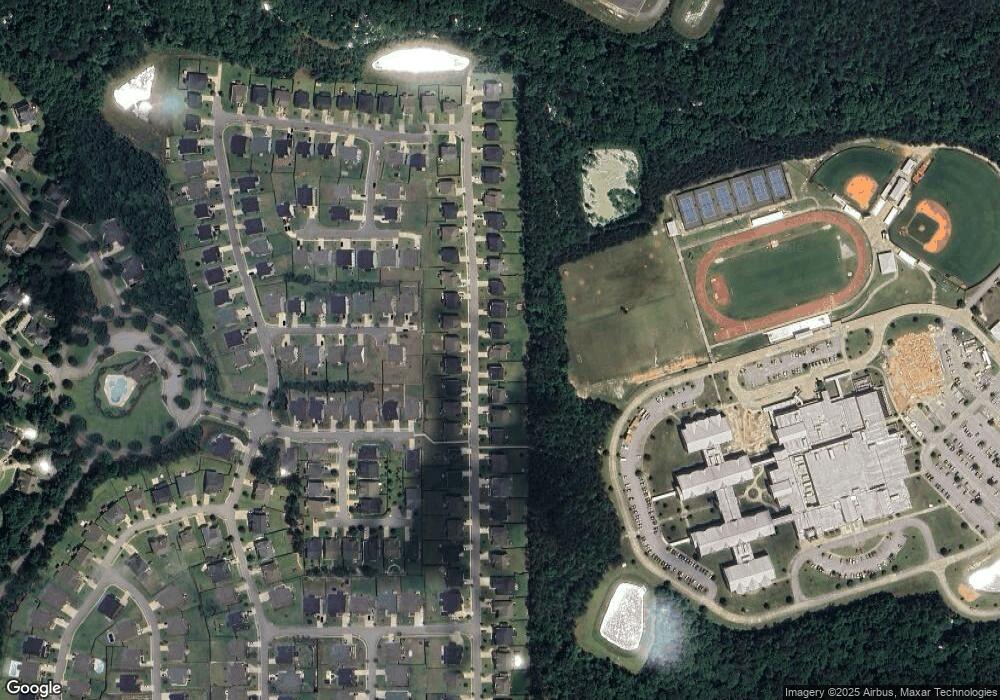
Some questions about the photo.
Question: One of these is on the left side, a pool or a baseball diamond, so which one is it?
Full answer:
The one visible on the left side is a pool.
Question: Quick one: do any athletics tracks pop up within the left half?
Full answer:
No, I can find no athletics track within the left half.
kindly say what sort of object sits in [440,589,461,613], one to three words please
house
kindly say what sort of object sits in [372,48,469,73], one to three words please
pond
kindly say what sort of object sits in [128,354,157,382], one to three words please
building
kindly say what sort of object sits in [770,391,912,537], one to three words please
building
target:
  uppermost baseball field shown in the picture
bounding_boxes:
[810,147,902,211]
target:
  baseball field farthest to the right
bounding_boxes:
[888,147,1000,288]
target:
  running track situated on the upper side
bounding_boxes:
[696,210,866,328]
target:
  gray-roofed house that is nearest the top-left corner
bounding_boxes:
[15,100,40,126]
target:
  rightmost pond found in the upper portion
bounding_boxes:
[581,149,640,224]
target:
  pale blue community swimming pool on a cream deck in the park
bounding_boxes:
[104,375,137,407]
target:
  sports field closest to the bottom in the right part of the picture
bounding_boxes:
[705,219,857,313]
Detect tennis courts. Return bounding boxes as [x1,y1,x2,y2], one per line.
[733,181,751,207]
[752,176,770,202]
[680,197,697,224]
[770,170,787,196]
[716,185,733,213]
[698,191,716,218]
